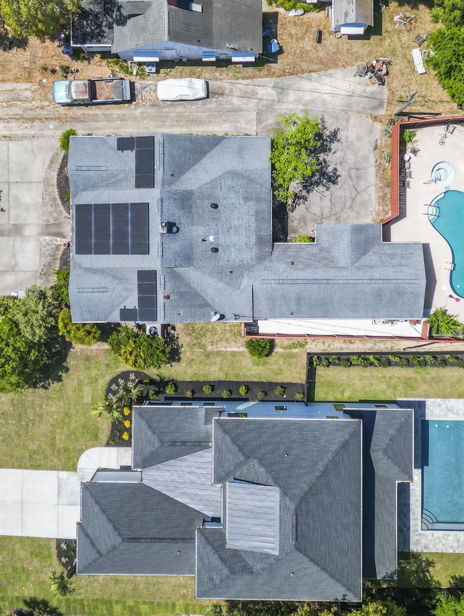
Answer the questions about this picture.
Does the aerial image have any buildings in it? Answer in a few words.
Yes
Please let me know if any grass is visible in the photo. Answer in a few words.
Yes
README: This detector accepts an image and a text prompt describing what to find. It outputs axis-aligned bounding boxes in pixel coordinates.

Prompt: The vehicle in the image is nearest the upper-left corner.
[52,71,133,106]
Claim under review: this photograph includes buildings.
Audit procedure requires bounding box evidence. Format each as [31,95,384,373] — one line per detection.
[76,402,415,603]
[294,0,373,41]
[71,0,262,65]
[68,134,426,324]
